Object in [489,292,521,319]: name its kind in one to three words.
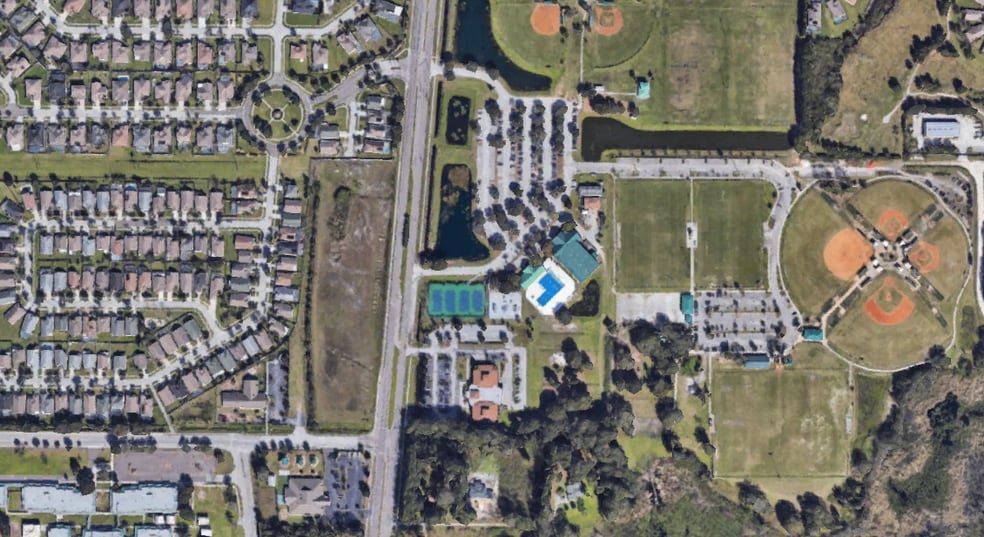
sports court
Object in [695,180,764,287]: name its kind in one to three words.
soccer field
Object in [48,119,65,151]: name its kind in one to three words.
house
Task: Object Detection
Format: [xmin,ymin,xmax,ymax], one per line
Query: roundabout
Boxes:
[242,79,313,150]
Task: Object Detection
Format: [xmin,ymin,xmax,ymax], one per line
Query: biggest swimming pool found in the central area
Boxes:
[526,258,576,315]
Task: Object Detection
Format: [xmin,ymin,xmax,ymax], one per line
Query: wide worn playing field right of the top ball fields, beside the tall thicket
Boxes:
[664,12,790,122]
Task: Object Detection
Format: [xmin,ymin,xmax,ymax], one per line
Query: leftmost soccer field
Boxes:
[617,180,690,289]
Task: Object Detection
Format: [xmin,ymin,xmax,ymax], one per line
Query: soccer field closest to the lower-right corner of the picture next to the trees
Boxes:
[714,368,848,476]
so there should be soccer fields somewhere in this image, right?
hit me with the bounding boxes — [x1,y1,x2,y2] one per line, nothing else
[664,12,790,122]
[714,368,848,476]
[695,180,764,287]
[617,180,690,289]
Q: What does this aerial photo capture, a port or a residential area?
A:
residential area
